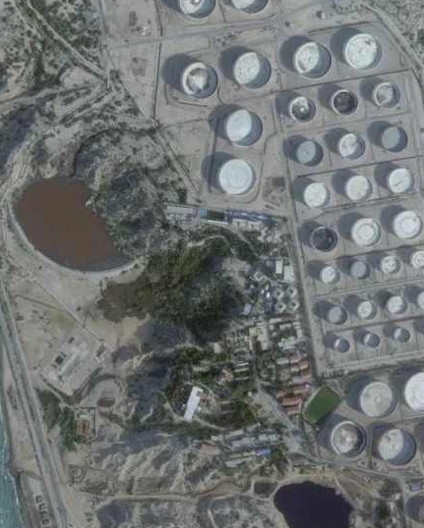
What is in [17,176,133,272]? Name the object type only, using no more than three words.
pond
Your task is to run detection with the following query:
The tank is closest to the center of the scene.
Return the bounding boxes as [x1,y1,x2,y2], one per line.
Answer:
[219,158,255,195]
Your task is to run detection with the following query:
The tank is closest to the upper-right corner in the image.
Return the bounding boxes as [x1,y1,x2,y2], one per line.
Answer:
[344,32,381,69]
